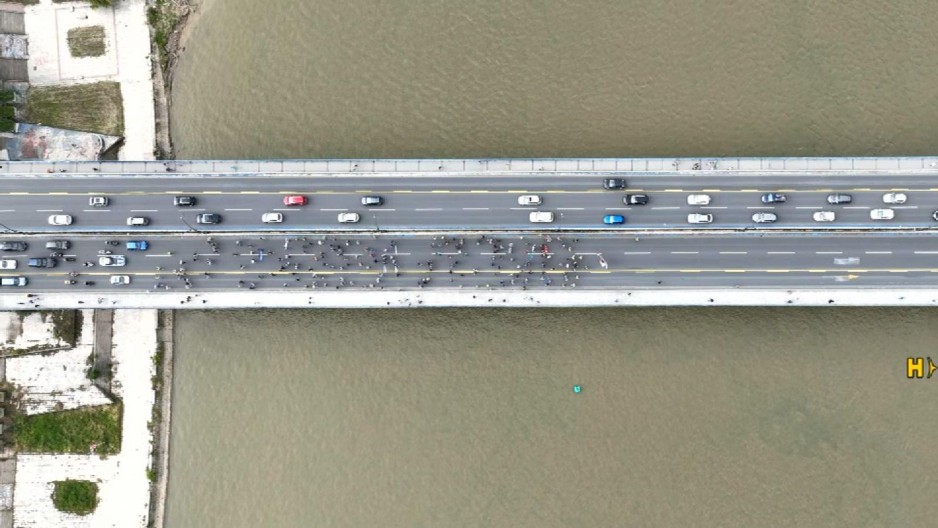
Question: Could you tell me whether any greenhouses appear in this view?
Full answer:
No, I can't see a single greenhouse in this photo.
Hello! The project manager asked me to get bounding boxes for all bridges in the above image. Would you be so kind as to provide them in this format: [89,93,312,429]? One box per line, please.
[0,156,938,310]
